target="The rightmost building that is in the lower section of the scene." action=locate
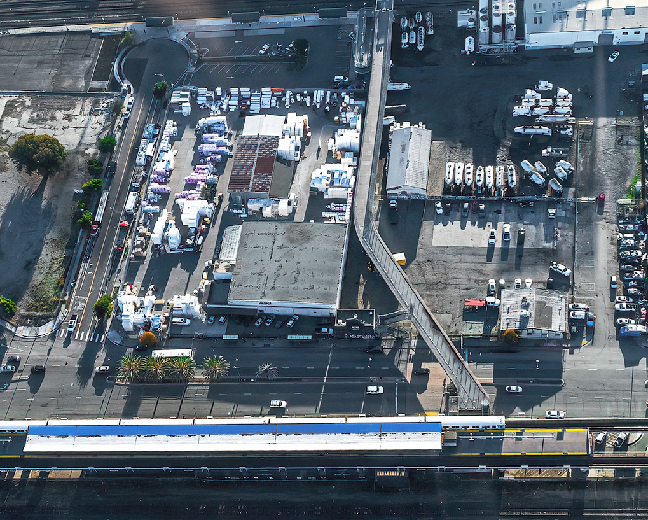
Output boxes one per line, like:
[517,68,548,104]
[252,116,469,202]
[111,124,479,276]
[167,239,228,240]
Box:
[499,287,568,338]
